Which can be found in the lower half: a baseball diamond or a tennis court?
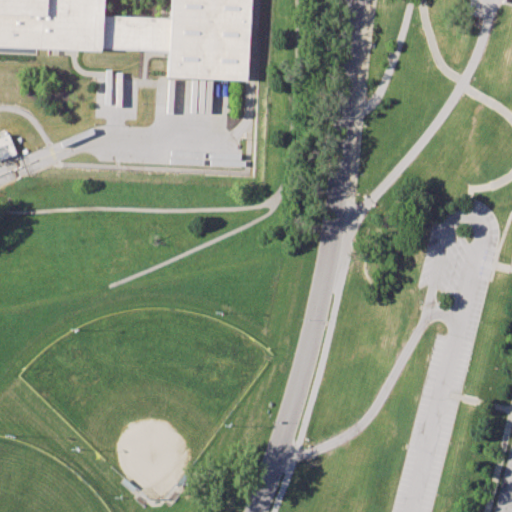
baseball diamond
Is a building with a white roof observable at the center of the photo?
No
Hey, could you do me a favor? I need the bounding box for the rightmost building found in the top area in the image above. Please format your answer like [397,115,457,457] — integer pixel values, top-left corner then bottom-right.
[166,0,254,81]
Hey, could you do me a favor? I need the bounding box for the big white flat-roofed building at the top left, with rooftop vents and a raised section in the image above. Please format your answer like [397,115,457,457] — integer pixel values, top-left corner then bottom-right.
[0,0,106,56]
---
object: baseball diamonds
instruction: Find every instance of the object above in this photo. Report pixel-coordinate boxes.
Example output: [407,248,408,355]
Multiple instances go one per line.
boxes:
[20,308,270,500]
